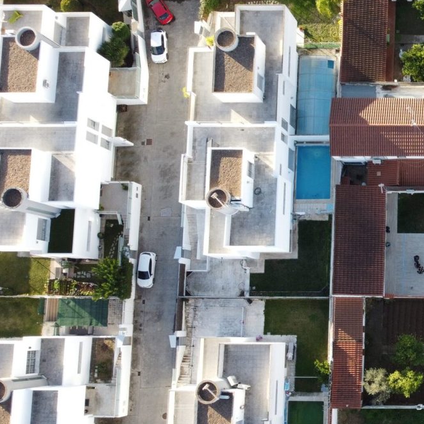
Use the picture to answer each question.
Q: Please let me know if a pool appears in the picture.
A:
Yes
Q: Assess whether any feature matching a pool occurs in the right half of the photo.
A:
Yes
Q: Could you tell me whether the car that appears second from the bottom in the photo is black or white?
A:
white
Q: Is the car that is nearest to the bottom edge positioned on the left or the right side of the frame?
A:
left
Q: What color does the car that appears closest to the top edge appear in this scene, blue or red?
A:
red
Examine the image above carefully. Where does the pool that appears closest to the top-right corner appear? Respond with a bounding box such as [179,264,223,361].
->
[297,63,335,134]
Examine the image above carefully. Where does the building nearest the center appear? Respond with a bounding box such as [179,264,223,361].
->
[177,127,296,259]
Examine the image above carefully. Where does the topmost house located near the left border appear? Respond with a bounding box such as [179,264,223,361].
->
[0,4,136,146]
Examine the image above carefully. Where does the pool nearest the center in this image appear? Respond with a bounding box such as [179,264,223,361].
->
[294,144,333,201]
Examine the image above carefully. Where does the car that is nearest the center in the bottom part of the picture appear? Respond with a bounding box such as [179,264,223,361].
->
[134,251,159,289]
